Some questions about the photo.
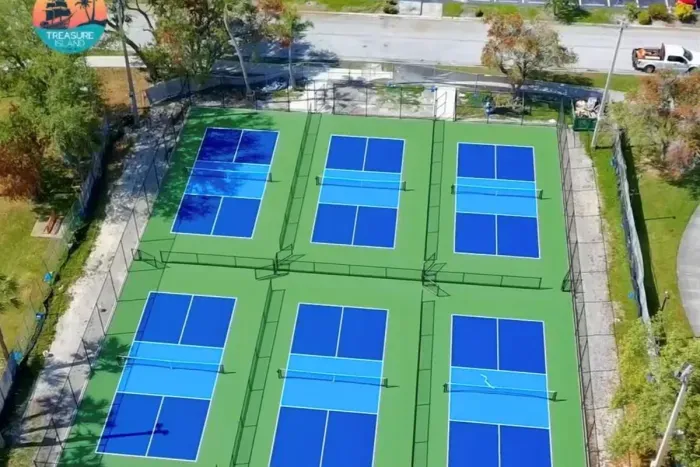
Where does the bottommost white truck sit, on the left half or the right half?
right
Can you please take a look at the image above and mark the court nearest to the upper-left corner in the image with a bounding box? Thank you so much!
[171,126,279,239]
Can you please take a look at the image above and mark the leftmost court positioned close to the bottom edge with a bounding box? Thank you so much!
[95,292,237,460]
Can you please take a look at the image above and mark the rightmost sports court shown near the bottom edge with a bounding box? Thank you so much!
[448,315,552,467]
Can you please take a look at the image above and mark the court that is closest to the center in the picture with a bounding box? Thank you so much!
[311,134,405,248]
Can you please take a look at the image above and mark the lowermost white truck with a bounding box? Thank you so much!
[631,40,700,75]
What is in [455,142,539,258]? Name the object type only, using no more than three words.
sports court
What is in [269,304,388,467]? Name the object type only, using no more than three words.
sports court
